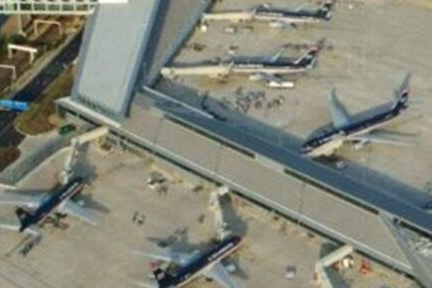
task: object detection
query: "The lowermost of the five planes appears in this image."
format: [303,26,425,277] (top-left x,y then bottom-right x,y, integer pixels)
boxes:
[130,233,242,288]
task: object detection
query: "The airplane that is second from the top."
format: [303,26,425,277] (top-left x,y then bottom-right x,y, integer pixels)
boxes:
[209,41,314,92]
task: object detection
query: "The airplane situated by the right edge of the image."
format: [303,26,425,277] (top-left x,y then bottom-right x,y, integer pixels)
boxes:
[299,86,421,159]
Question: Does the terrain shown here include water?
No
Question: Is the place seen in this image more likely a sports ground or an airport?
airport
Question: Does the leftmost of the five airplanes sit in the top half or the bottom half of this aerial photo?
bottom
